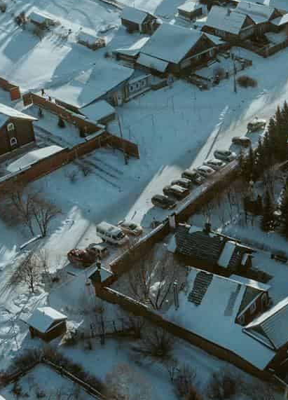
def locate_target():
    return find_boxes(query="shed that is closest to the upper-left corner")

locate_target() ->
[27,12,57,33]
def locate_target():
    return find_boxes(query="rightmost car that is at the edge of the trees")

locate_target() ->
[245,118,268,131]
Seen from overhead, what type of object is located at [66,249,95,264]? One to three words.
car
